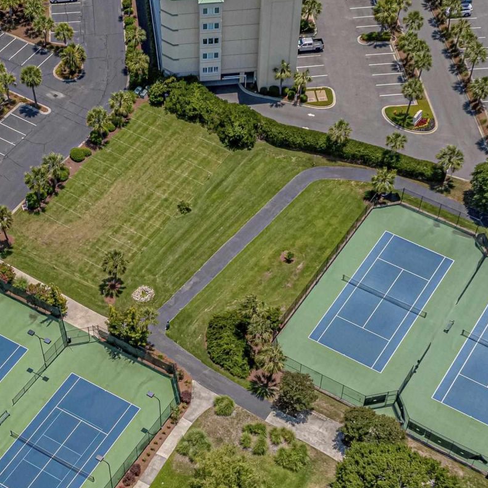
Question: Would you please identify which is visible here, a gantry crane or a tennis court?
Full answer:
The one in the frame is a tennis court.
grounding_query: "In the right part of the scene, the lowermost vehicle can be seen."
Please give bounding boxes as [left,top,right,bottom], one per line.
[299,38,326,54]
